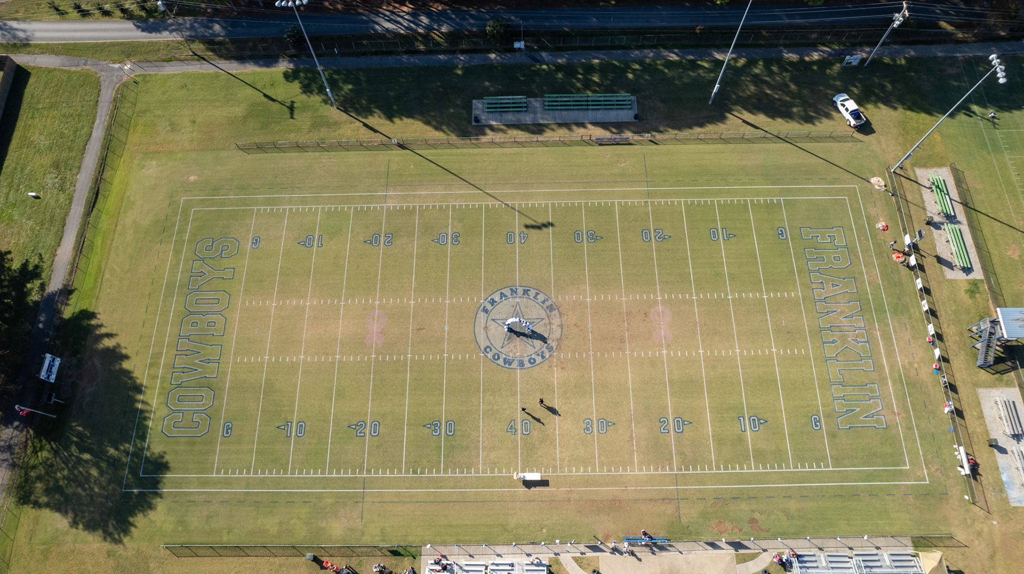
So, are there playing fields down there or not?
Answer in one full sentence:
Yes, a playing field can be made out from above.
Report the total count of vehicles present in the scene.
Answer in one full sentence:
In total, 1 vehicle can be seen.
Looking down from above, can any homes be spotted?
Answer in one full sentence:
No, there's no home here.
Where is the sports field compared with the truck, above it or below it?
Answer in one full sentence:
In the image, the sports field sits below the truck.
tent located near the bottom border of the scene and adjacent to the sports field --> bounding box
[915,549,949,574]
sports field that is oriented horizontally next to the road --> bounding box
[71,144,978,547]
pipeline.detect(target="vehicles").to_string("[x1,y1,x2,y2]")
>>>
[833,93,867,129]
